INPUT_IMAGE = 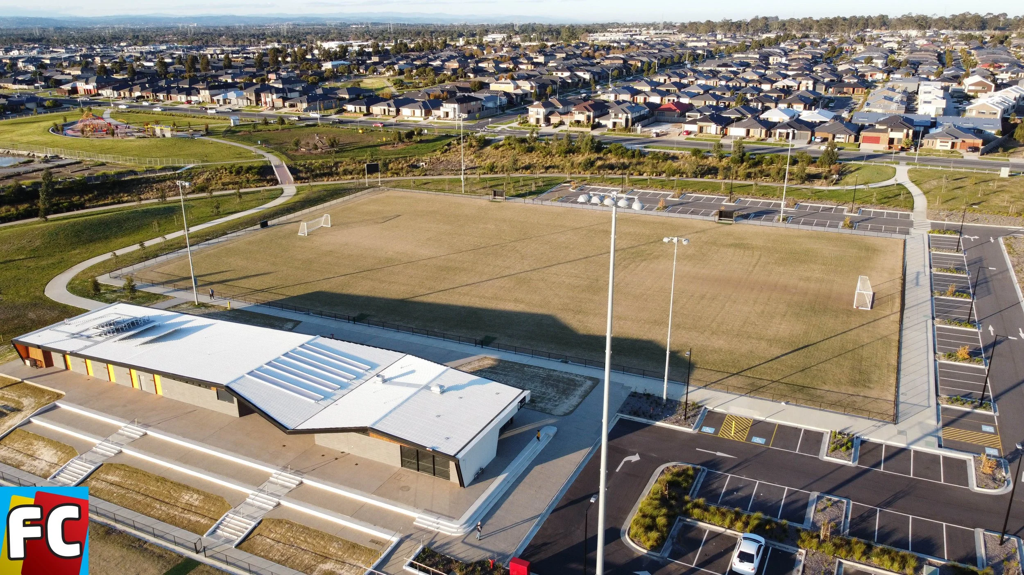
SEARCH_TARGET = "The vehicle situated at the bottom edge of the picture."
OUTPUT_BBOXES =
[731,531,767,575]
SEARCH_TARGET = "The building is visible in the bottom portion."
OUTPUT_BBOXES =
[11,302,530,490]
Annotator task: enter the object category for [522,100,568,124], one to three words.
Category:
house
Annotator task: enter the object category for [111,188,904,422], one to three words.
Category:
sports field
